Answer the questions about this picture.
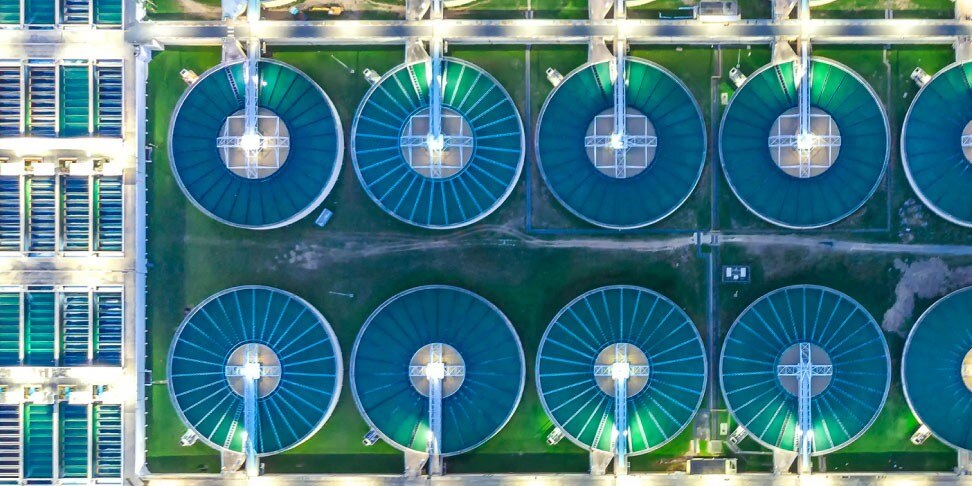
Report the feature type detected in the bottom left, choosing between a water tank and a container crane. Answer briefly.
water tank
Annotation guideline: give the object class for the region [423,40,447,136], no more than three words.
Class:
bridge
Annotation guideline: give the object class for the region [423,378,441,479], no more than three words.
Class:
bridge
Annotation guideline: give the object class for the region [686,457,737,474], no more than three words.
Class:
building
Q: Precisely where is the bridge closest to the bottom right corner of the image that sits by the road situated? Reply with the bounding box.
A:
[802,378,828,480]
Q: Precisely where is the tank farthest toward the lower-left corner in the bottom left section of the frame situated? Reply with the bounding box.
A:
[166,285,342,480]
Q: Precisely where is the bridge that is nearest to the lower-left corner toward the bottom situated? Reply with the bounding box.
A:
[234,378,257,480]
